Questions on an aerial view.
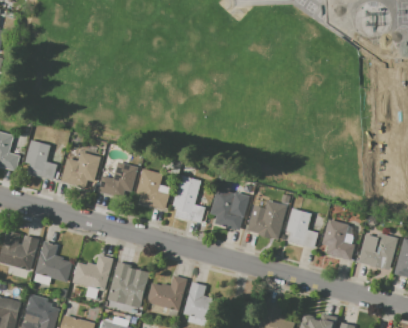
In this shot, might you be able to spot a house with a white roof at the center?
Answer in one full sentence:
Yes, at the center there is a house with a white roof.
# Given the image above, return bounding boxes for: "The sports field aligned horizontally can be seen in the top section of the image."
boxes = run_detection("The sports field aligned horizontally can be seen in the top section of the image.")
[8,0,362,196]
